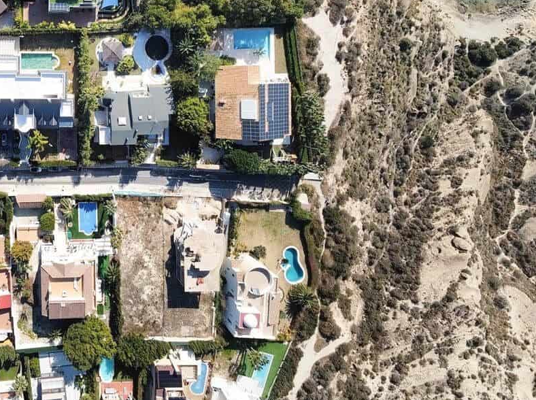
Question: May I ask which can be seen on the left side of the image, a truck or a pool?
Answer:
pool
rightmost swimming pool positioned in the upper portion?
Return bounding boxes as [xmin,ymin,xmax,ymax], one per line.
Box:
[233,29,271,61]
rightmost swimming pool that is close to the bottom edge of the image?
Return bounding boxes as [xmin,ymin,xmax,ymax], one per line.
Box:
[251,351,274,389]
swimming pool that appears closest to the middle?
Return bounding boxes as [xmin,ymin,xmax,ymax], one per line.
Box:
[283,245,306,284]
